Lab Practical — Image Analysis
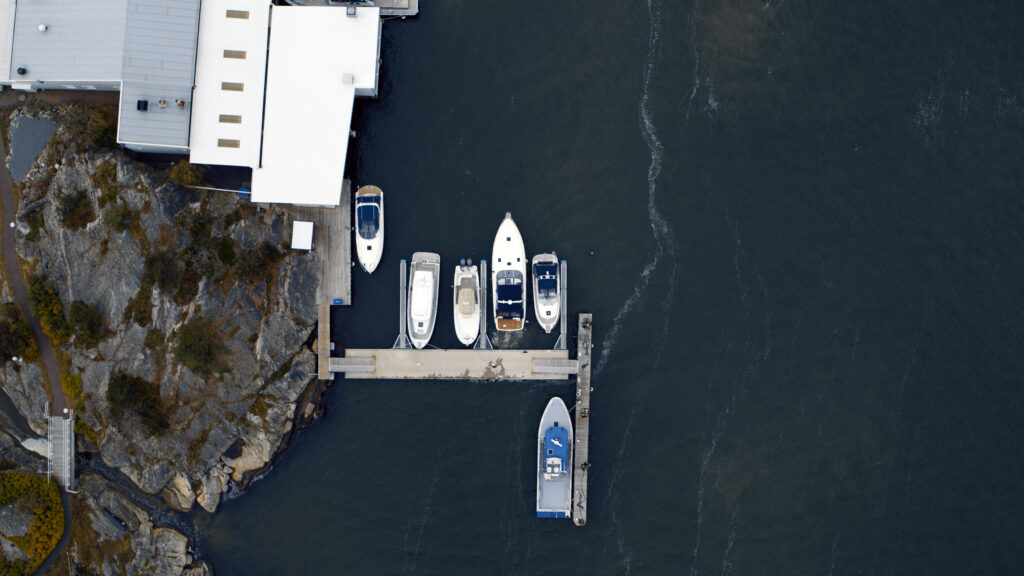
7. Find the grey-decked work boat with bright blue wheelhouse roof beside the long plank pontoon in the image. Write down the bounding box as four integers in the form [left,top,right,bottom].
[536,396,574,519]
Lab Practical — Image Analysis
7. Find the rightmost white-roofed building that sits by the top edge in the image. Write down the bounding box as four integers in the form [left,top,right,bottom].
[251,6,387,207]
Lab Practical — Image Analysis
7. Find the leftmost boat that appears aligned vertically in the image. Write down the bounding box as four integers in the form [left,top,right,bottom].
[356,185,384,272]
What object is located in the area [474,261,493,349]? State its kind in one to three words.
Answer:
pier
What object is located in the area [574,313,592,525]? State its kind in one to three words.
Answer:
pier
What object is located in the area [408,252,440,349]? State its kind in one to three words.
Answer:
boat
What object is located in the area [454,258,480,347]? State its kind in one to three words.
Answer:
boat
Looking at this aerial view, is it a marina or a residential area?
marina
